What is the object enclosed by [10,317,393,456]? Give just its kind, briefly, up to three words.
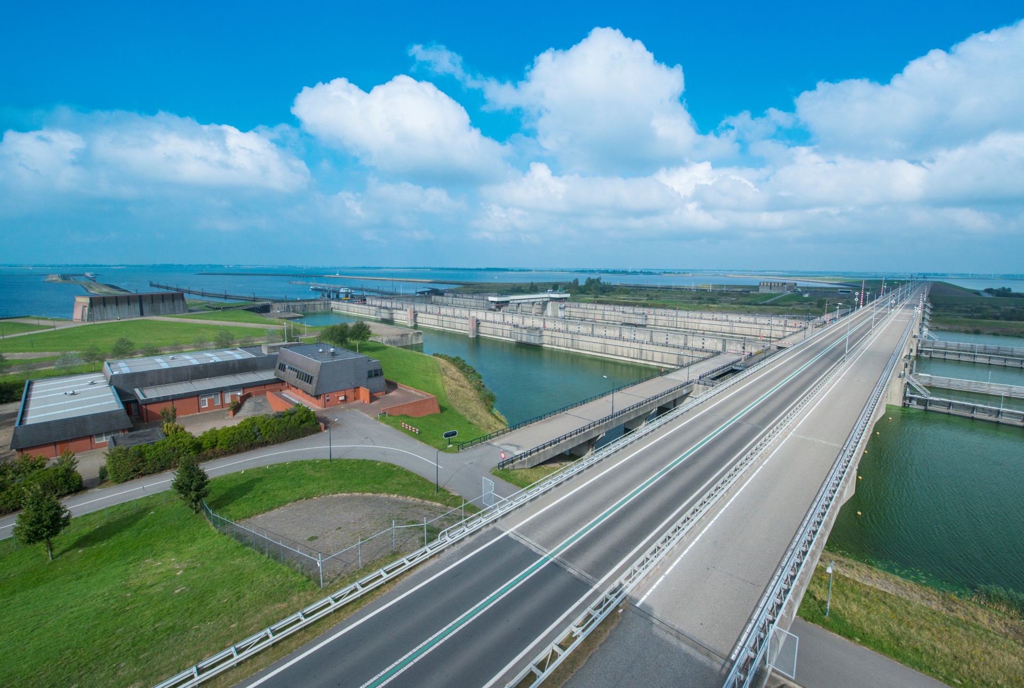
building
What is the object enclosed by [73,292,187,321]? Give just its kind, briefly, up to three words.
building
